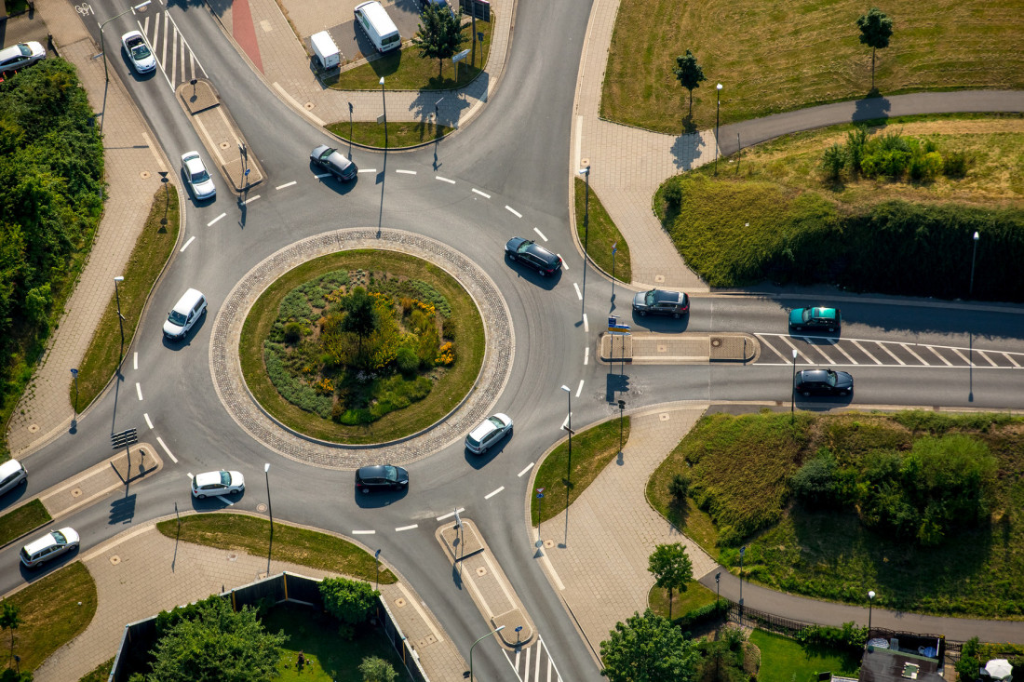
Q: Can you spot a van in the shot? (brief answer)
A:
Yes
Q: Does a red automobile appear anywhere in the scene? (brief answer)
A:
No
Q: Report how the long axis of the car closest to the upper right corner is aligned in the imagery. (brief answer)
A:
horizontally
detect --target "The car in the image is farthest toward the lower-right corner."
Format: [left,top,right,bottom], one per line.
[796,370,852,397]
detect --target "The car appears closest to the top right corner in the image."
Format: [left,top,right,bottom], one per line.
[790,308,841,334]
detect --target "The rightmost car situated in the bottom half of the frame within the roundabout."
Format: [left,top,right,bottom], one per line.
[463,417,514,457]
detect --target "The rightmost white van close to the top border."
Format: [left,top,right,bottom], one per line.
[353,0,399,50]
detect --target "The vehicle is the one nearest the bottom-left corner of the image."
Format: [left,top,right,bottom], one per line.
[19,530,80,568]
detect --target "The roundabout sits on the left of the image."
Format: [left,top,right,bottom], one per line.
[134,169,589,534]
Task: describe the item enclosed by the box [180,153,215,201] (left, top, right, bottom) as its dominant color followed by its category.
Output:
white car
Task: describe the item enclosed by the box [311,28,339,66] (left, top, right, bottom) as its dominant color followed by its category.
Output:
white trailer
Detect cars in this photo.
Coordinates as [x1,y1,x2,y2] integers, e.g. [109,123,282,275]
[0,47,42,80]
[192,471,245,500]
[180,153,215,201]
[424,0,455,15]
[463,417,514,457]
[19,530,80,568]
[123,31,154,74]
[796,370,852,397]
[355,466,408,492]
[309,147,359,186]
[0,464,30,496]
[632,290,690,320]
[790,308,841,334]
[505,239,563,278]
